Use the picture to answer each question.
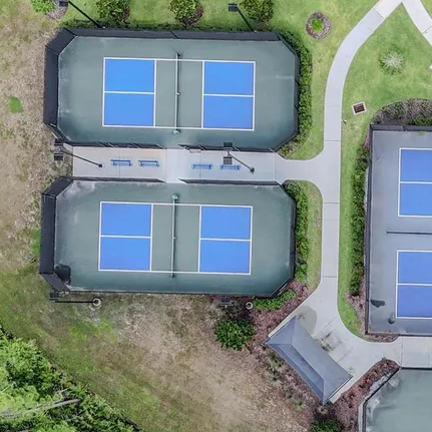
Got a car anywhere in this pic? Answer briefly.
No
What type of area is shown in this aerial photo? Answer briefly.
sports ground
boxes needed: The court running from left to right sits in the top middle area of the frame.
[57,37,294,149]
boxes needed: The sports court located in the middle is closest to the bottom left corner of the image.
[55,181,289,295]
